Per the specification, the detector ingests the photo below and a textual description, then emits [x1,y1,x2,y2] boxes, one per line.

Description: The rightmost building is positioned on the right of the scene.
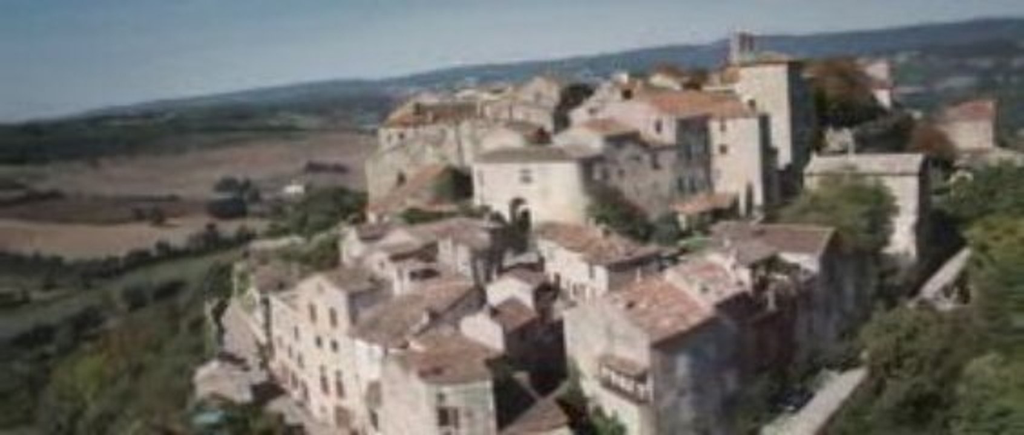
[943,106,998,147]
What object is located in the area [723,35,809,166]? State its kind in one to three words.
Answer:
building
